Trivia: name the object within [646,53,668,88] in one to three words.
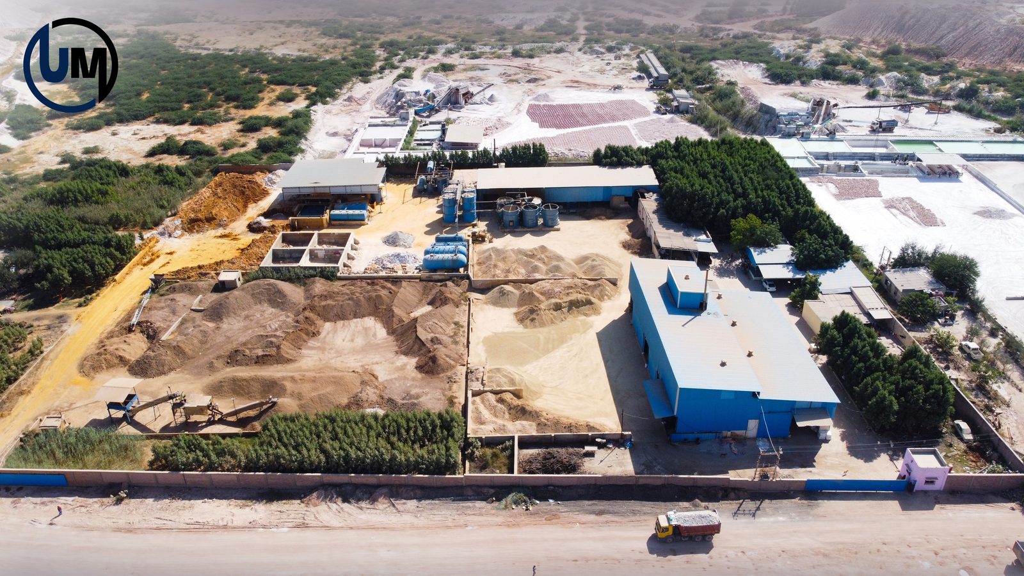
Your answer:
shed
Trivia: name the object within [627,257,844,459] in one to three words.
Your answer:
building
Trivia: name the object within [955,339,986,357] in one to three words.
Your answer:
vehicle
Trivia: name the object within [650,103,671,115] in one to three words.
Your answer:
vehicle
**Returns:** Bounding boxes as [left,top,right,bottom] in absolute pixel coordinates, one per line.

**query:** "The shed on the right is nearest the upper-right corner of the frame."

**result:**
[911,153,968,179]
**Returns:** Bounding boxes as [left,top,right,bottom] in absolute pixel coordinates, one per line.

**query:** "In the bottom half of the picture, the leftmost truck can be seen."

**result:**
[652,511,727,542]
